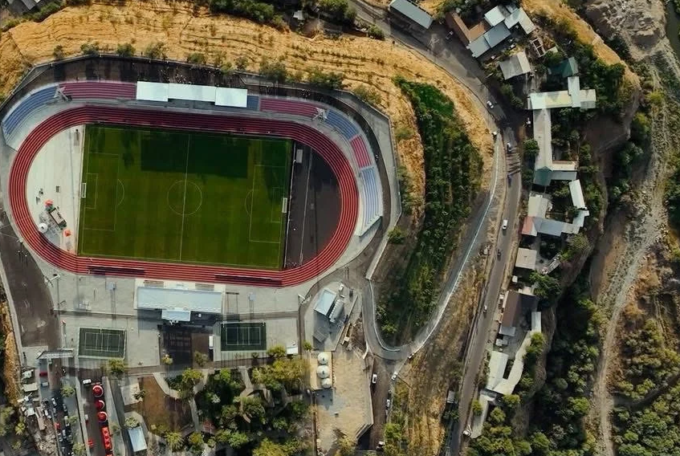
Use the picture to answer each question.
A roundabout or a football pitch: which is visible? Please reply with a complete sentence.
There is a football pitch in the scene.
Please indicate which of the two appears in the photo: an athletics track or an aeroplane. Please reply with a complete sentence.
There is an athletics track in the scene.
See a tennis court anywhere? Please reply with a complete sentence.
Yes, the photo shows a tennis court.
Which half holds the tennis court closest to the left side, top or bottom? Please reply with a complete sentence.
The tennis court closest to the left side is in the bottom half of the image.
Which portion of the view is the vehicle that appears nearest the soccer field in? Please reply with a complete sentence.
The vehicle that appears nearest the soccer field appears toward the left of the photo.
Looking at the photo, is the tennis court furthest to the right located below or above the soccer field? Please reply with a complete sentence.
The position of the tennis court furthest to the right is below the soccer field.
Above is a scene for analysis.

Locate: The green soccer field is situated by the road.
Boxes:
[73,123,295,270]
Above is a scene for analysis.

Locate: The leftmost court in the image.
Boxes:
[78,327,127,359]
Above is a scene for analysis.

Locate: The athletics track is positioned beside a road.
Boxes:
[8,105,360,288]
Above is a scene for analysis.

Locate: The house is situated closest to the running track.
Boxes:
[313,288,338,316]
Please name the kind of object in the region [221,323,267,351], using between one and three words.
tennis court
